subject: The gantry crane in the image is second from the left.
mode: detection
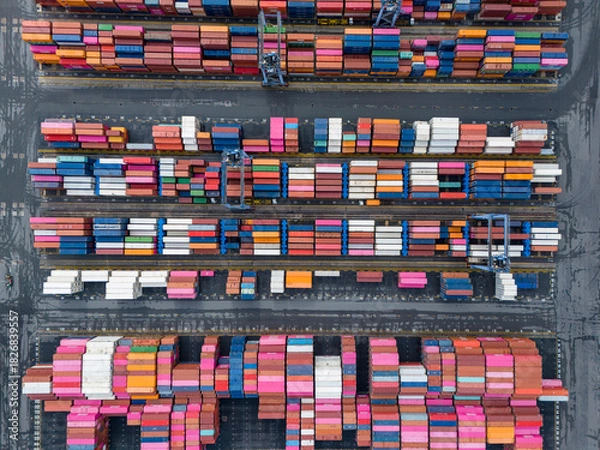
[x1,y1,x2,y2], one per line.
[258,6,288,88]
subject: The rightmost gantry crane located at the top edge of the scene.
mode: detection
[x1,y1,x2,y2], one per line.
[370,0,405,29]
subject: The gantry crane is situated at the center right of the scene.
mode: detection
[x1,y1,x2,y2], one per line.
[465,213,512,273]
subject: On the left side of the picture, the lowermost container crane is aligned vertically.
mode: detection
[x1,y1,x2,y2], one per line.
[221,147,254,212]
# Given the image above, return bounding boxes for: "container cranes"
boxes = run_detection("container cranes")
[221,147,254,212]
[258,6,288,88]
[465,213,512,273]
[370,0,405,29]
